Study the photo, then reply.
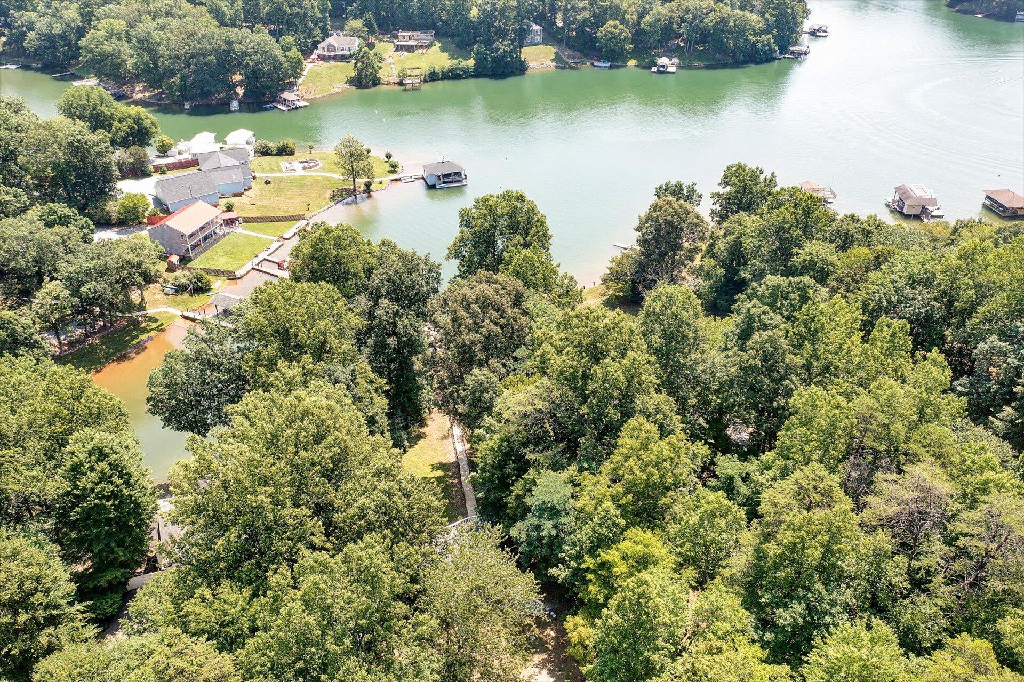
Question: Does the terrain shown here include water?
Yes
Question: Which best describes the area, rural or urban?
rural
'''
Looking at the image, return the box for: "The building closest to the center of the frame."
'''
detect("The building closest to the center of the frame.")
[426,154,469,188]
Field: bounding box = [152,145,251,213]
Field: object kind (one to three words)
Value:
house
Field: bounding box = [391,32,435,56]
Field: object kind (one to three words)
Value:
house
